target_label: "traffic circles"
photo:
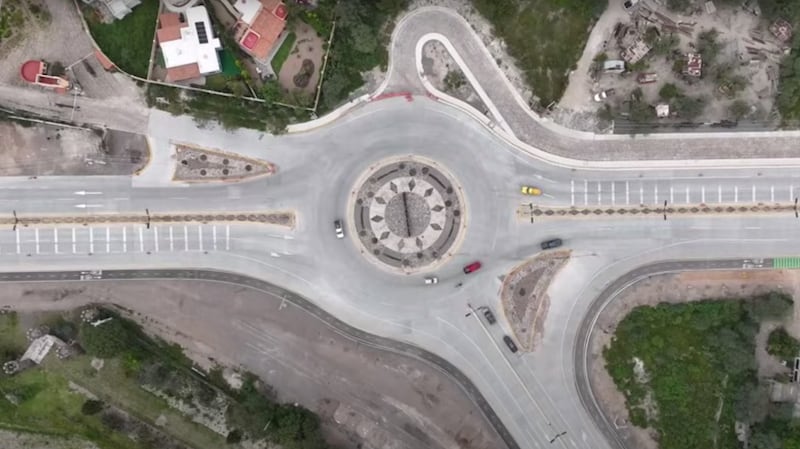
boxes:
[300,108,514,322]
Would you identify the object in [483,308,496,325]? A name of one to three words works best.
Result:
vehicle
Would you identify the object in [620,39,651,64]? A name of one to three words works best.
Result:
shed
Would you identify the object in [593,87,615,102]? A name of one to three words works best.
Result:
vehicle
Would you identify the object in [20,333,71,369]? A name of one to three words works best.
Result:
building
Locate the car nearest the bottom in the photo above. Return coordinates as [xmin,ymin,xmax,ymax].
[503,333,518,353]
